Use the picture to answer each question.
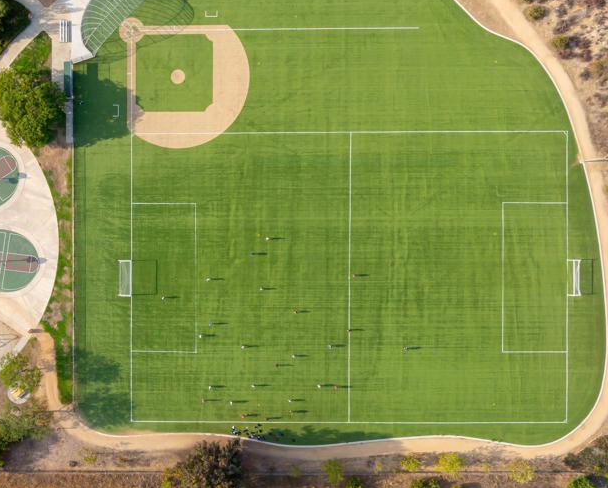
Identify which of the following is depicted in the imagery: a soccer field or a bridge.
soccer field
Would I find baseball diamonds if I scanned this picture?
Yes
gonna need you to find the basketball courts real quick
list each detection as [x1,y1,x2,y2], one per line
[0,150,19,208]
[0,229,39,292]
